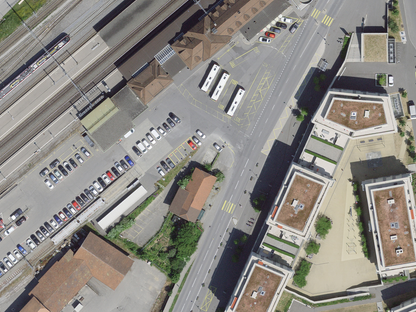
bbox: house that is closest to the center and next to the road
[170,168,217,222]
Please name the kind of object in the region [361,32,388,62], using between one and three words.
building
